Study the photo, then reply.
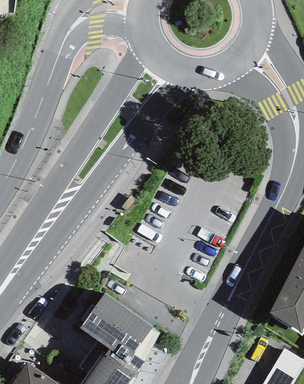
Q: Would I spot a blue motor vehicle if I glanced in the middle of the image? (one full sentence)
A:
Yes, a blue motor vehicle shows up in the middle of the image.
